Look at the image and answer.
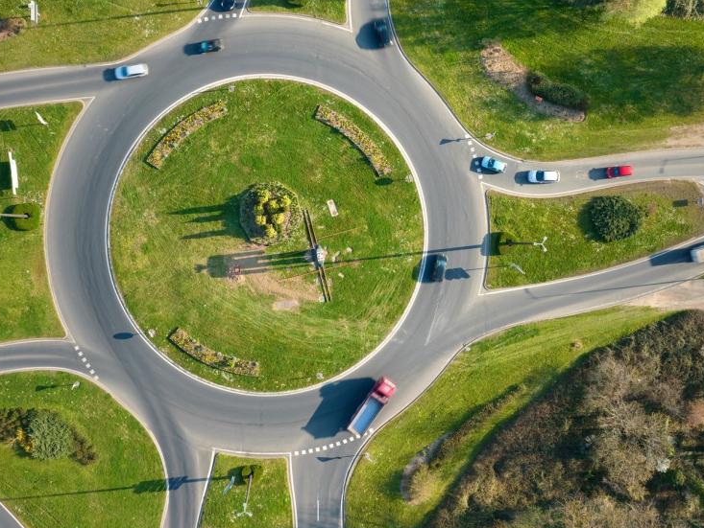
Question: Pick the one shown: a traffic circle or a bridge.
traffic circle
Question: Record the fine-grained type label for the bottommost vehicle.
truck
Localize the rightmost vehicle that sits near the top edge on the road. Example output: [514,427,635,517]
[374,15,391,50]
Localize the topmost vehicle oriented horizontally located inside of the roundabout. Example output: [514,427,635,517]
[191,39,224,55]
